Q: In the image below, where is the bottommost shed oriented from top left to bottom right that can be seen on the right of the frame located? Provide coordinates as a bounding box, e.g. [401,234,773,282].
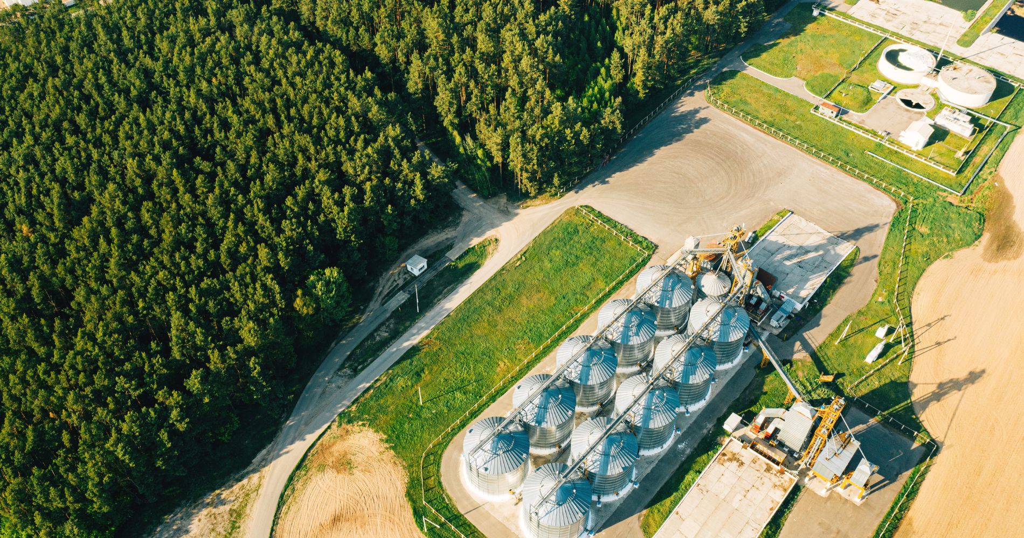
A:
[752,433,790,467]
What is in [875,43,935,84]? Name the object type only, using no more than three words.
storage tank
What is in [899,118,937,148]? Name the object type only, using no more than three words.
building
